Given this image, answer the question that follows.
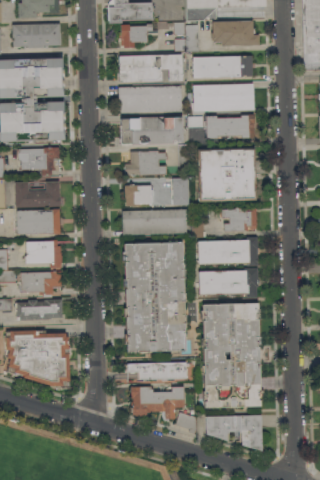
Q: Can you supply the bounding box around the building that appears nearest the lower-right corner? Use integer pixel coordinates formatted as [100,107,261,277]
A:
[207,416,262,450]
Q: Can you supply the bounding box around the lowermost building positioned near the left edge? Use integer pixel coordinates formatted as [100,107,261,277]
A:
[7,332,70,386]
